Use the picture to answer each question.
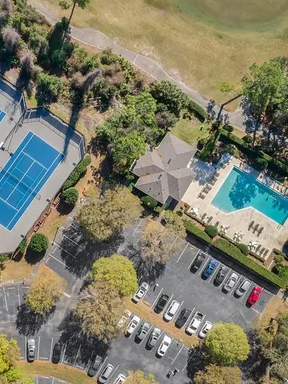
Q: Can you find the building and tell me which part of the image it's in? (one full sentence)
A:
The building sits in the center section of the image.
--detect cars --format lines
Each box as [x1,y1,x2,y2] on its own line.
[126,316,140,335]
[28,339,36,358]
[52,342,61,361]
[157,335,172,354]
[197,321,212,339]
[224,273,239,291]
[88,356,102,376]
[190,253,205,271]
[133,283,148,301]
[99,364,114,383]
[176,308,191,327]
[235,278,252,297]
[202,260,217,278]
[212,266,228,285]
[136,322,150,341]
[164,301,180,320]
[121,310,131,320]
[155,294,170,312]
[246,287,262,305]
[148,328,161,347]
